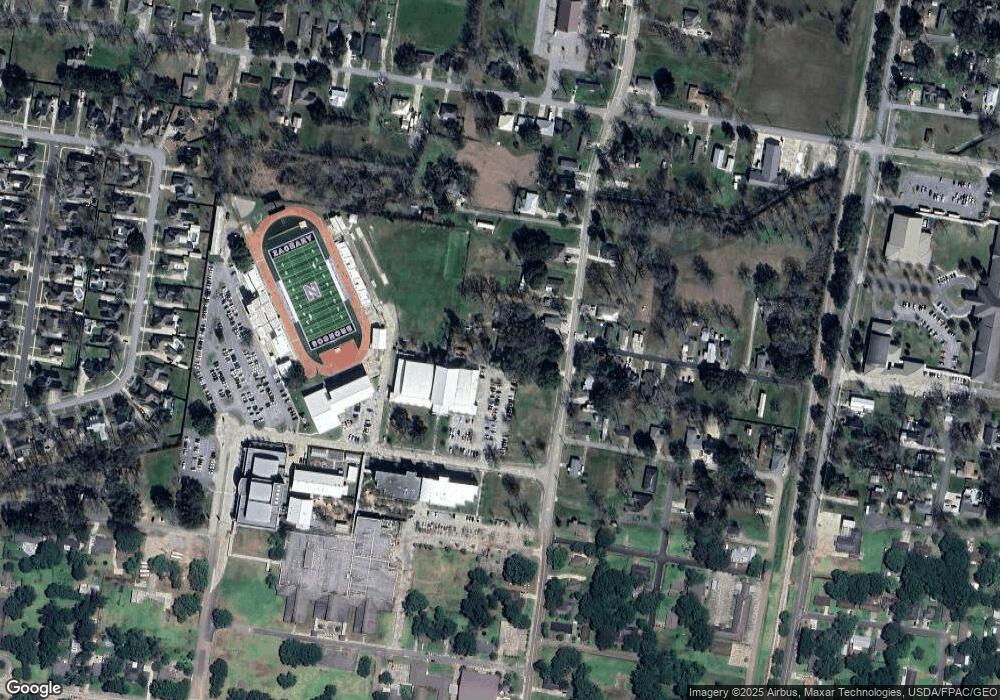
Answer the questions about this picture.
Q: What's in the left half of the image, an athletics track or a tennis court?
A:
athletics track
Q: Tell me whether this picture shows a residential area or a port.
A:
residential area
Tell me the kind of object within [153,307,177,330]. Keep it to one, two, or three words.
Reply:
house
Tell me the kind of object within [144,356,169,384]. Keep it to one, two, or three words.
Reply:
house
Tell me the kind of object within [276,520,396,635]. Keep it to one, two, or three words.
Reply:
building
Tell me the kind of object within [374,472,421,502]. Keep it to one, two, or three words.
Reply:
building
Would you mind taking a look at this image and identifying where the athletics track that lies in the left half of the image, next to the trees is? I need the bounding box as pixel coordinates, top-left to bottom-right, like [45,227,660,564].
[243,206,372,380]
